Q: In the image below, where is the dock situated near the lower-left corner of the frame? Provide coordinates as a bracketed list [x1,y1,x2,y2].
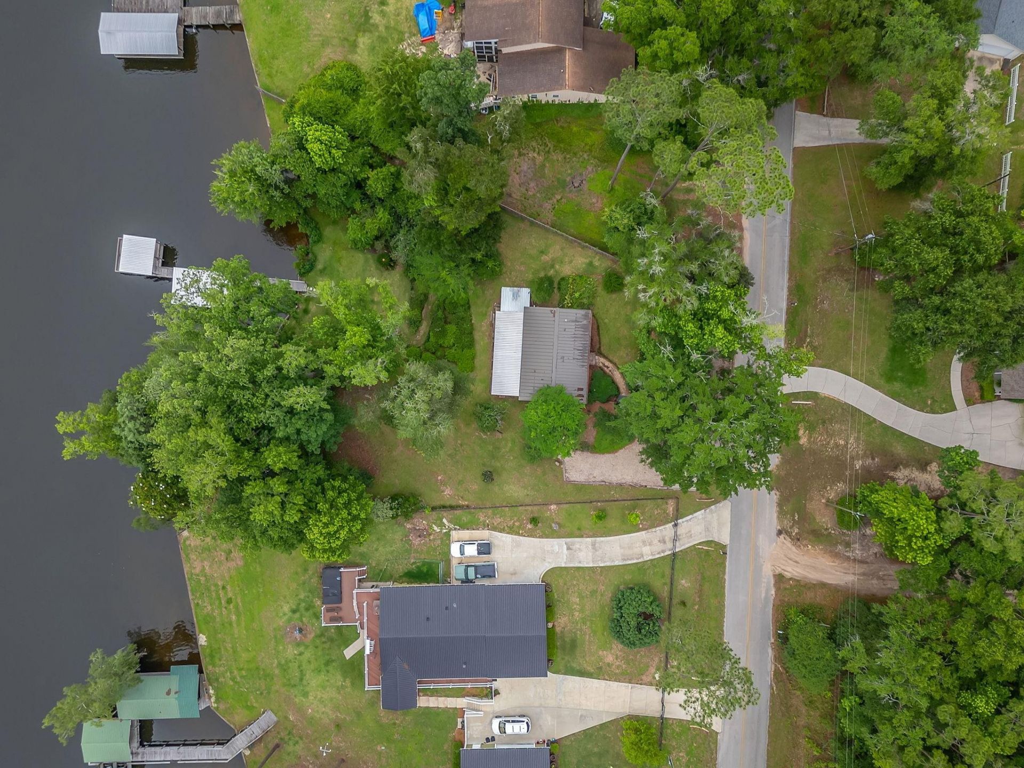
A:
[85,671,280,768]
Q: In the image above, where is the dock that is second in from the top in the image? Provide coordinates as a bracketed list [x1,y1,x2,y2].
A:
[115,237,174,279]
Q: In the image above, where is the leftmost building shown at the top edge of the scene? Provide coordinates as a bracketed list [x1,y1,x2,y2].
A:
[99,13,188,65]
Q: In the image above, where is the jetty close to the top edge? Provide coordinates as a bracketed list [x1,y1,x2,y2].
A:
[113,0,243,61]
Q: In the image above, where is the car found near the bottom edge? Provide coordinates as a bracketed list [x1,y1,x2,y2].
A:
[492,715,529,735]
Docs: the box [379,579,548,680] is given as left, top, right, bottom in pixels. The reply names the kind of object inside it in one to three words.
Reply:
house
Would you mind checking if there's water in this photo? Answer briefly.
Yes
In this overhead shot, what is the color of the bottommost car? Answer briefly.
white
